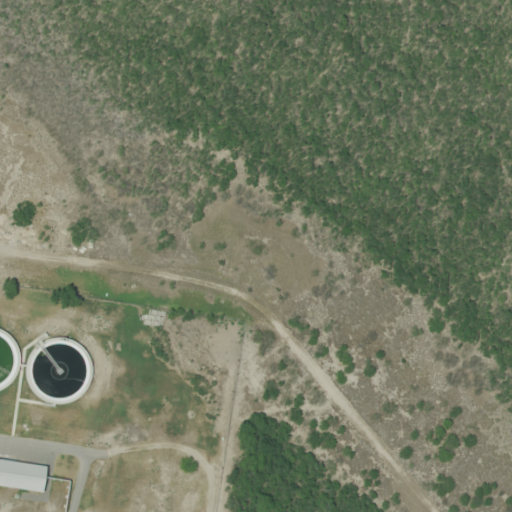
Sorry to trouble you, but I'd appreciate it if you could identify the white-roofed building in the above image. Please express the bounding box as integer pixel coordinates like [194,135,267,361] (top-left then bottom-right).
[0,458,48,493]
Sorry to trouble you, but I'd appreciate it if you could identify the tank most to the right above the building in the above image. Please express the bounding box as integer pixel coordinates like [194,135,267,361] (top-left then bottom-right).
[26,337,94,404]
